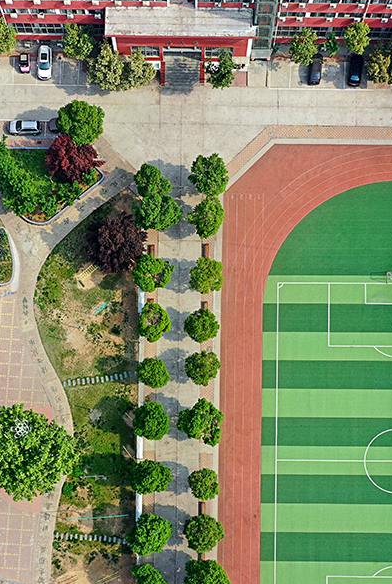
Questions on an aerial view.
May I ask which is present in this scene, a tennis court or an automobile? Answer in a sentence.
The one in the frame is an automobile.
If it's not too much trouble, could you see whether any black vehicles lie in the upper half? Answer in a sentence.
Yes, the scene does show a black vehicle in the upper half.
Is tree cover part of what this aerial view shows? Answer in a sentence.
Yes, there is tree cover in the image.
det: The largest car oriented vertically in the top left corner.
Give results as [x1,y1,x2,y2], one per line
[36,46,52,82]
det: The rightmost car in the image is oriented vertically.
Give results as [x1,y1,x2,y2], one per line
[347,54,364,89]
